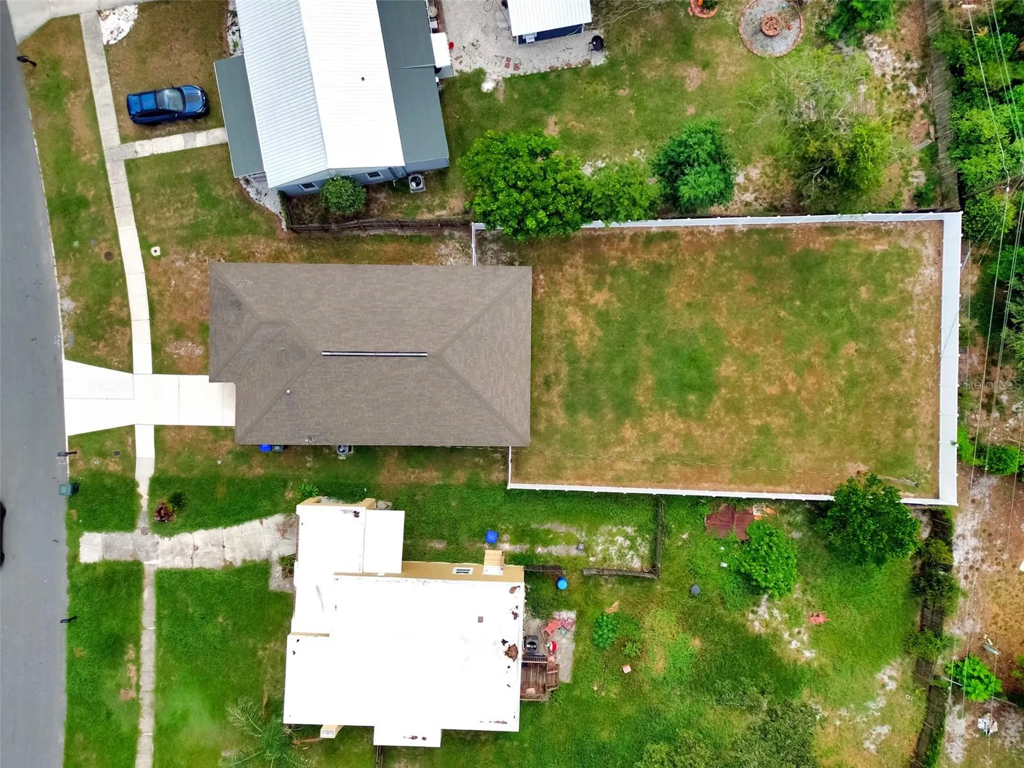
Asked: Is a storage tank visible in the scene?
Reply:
No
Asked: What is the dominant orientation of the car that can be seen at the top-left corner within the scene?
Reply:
horizontally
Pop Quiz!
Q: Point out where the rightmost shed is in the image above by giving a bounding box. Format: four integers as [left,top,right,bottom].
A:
[506,0,592,50]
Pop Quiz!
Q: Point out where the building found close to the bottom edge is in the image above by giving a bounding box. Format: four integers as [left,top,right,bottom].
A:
[283,504,525,748]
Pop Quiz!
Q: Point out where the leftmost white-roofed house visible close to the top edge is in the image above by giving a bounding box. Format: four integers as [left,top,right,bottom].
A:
[214,0,451,195]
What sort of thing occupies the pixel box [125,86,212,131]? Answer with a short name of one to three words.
car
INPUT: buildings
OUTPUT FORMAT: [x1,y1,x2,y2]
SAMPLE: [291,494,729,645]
[214,0,451,195]
[506,0,592,50]
[208,261,533,448]
[283,504,525,748]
